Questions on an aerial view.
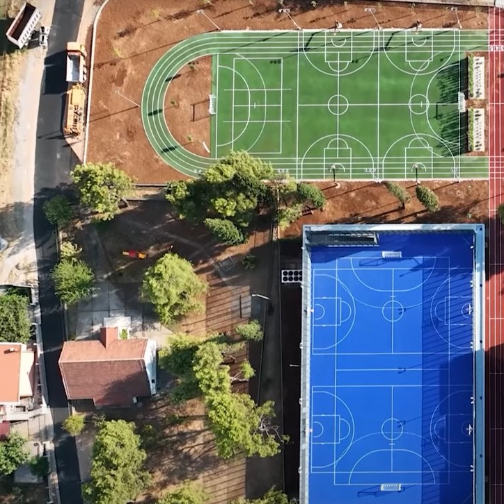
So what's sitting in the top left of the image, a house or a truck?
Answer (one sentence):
The one visible in the top left of the image is a truck.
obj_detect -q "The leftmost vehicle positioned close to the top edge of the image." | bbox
[5,4,46,46]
